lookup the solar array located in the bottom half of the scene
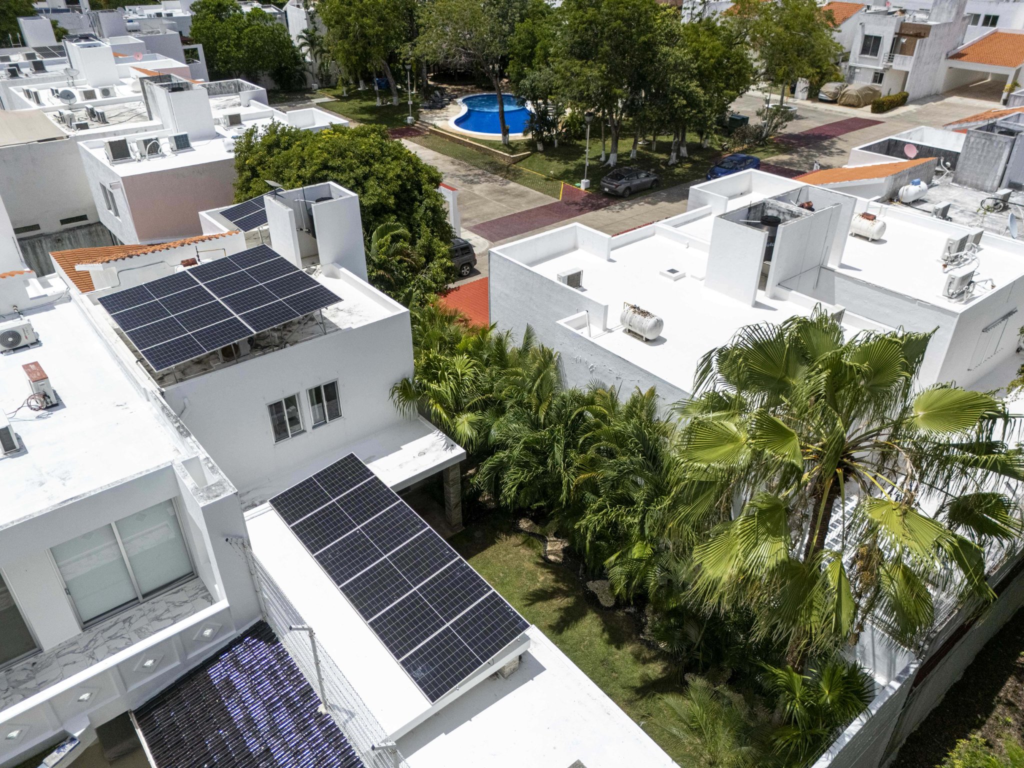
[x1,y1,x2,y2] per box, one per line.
[267,452,530,702]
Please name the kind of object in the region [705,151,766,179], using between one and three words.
car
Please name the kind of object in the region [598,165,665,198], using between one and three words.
car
